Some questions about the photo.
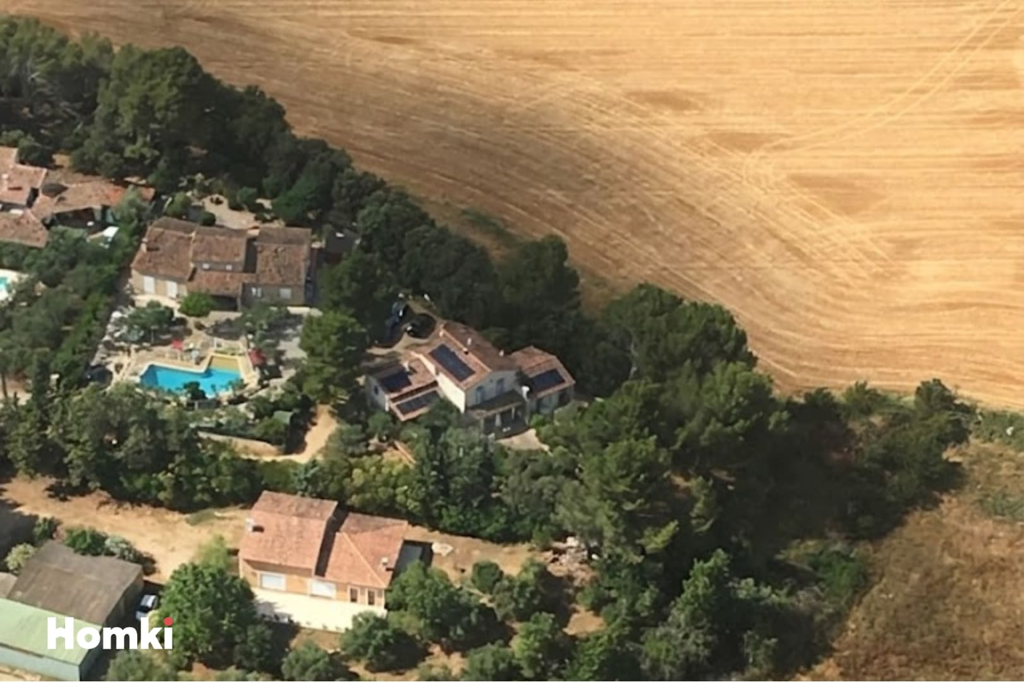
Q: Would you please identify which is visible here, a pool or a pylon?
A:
pool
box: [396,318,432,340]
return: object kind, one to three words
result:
car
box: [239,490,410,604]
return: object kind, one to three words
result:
house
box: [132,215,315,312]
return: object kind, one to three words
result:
house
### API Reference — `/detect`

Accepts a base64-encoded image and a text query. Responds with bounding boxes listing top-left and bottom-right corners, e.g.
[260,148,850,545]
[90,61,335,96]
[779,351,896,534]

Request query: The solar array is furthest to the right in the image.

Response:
[526,365,561,390]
